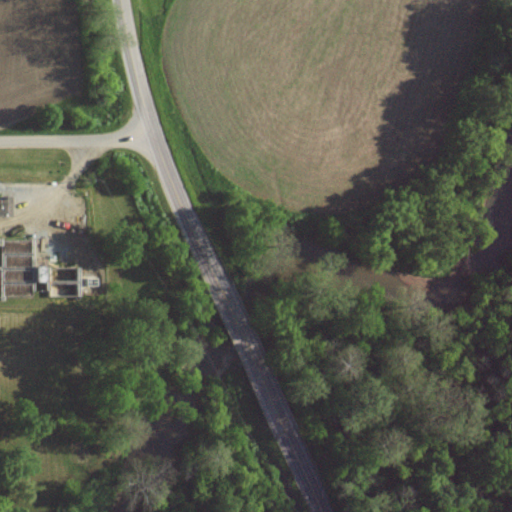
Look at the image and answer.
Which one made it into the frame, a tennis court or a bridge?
bridge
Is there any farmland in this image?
Yes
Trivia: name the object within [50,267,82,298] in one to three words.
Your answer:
storage tank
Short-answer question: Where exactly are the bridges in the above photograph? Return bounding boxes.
[212,286,258,349]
